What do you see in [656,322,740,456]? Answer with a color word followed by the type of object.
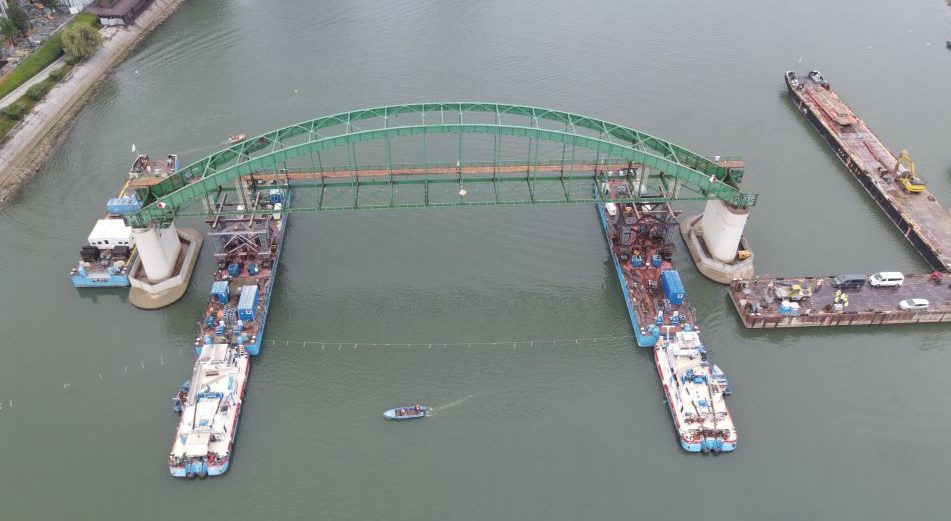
white boat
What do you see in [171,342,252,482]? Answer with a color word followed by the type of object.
white boat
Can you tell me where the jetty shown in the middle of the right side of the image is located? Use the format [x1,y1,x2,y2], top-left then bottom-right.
[723,272,951,328]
